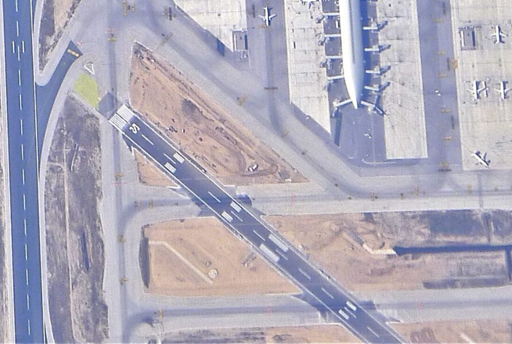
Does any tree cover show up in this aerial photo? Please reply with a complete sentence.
No, the scene doesn't show any tree cover.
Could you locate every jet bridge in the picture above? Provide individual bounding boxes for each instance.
[363,45,387,52]
[363,100,385,115]
[319,35,342,44]
[321,55,343,63]
[325,76,346,86]
[363,82,388,91]
[334,99,352,115]
[364,65,389,73]
[361,21,385,29]
[317,12,340,21]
